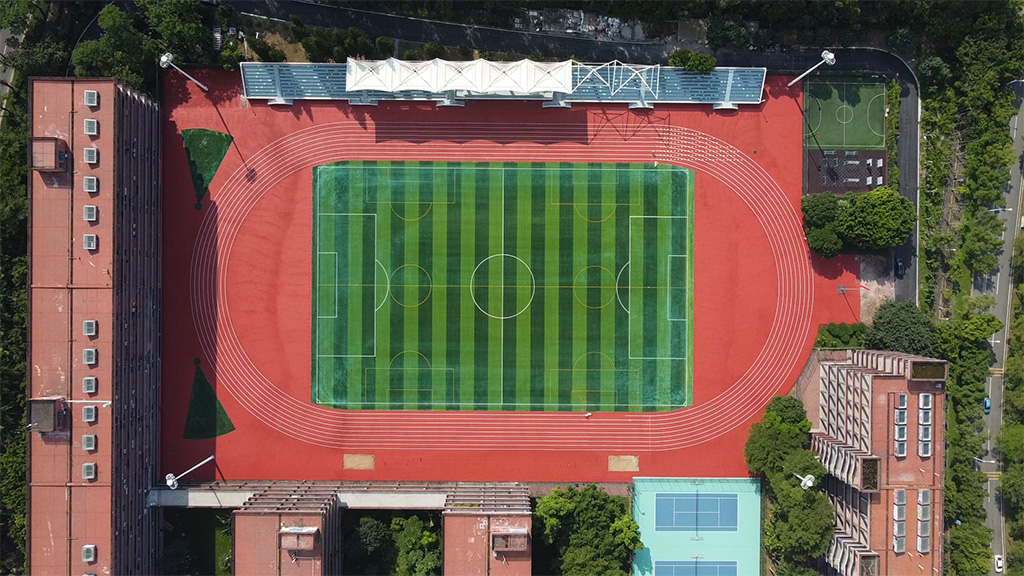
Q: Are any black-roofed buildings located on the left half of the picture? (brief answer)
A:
No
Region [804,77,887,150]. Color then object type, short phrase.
green sports court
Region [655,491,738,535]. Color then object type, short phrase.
blue tennis court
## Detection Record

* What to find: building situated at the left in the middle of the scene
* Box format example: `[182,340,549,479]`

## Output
[26,77,166,576]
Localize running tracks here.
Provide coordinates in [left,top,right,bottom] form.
[190,122,815,451]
